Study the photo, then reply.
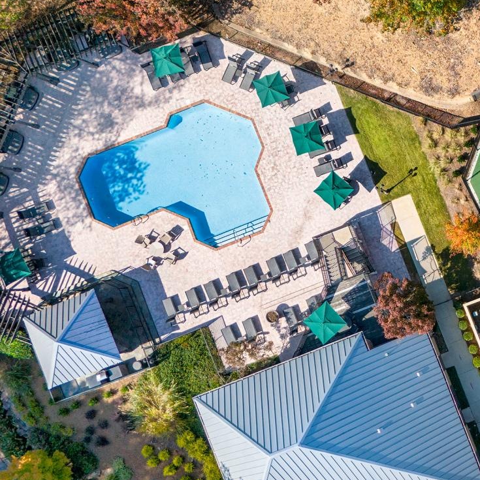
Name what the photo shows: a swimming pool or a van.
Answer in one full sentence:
It is a swimming pool that can be seen here.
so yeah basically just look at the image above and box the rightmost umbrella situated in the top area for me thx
[316,168,356,209]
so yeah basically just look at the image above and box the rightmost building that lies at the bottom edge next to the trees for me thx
[192,330,480,480]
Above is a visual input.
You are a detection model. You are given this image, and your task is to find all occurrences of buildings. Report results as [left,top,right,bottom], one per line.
[192,330,480,480]
[22,288,138,391]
